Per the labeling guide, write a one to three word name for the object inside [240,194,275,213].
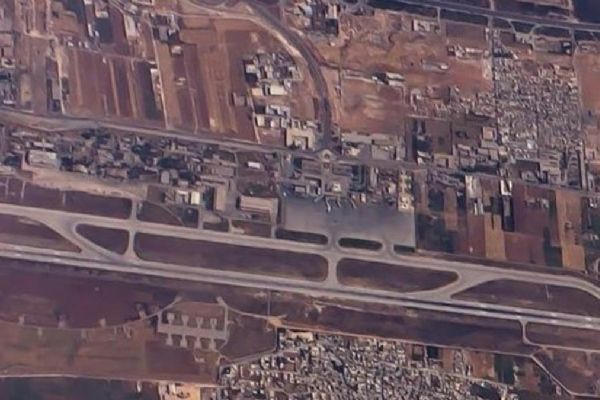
hangar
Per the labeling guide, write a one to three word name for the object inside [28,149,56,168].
building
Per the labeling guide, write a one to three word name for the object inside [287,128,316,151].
building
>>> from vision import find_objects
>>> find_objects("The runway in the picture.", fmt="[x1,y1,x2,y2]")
[0,245,600,329]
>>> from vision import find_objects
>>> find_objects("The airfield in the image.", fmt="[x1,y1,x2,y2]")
[0,176,600,351]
